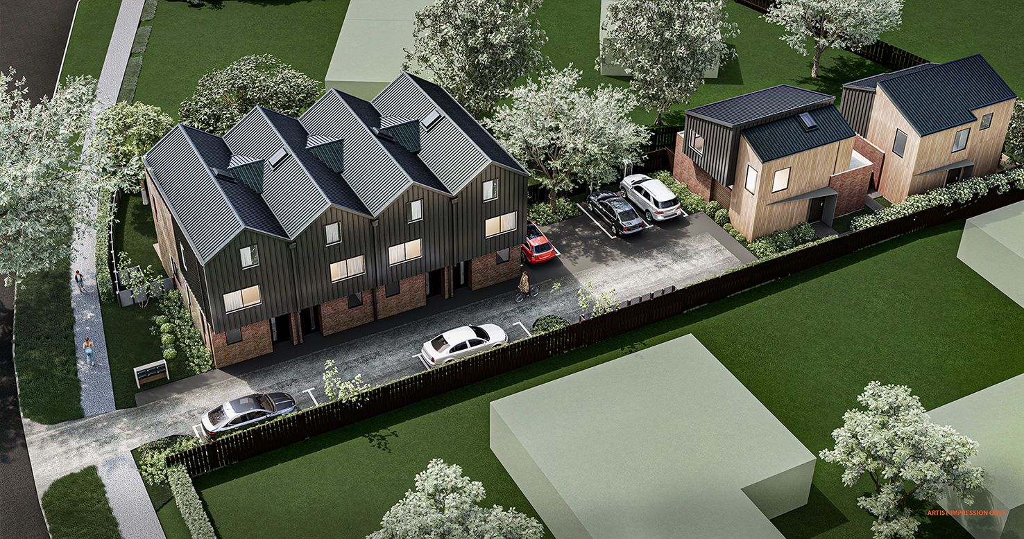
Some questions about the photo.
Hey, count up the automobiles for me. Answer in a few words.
5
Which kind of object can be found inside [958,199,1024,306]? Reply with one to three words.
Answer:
building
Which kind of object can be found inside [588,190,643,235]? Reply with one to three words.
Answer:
car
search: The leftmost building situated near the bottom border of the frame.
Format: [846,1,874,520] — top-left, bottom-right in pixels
[490,335,817,539]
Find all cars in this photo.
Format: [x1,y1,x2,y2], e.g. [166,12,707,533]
[588,190,643,235]
[520,218,557,261]
[201,390,295,439]
[420,324,505,368]
[620,174,679,220]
